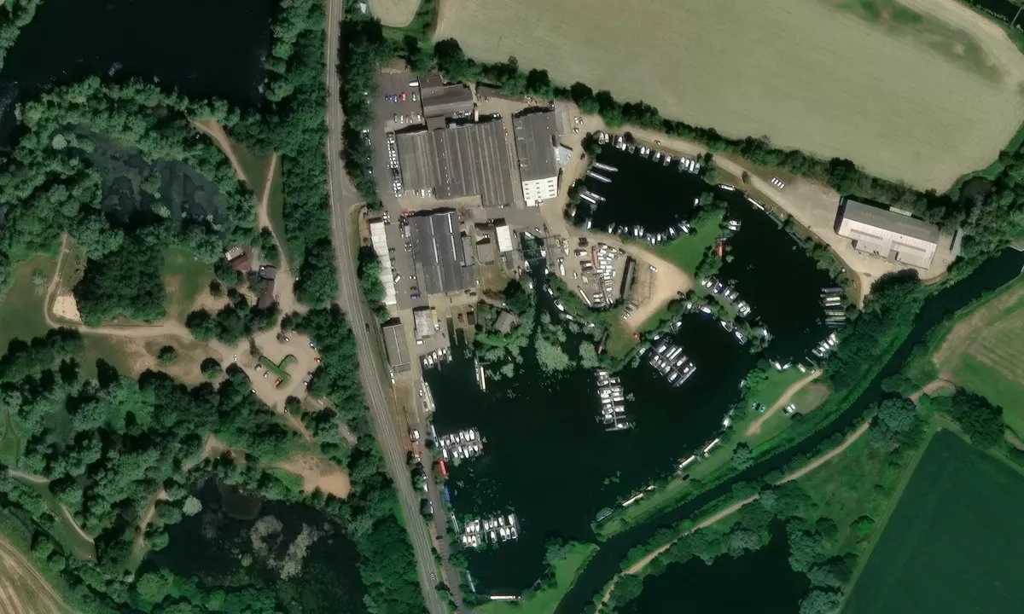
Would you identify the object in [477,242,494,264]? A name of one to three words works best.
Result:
building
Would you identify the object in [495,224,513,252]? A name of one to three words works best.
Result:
building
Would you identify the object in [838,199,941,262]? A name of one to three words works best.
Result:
barn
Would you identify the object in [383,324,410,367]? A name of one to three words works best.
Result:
shed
